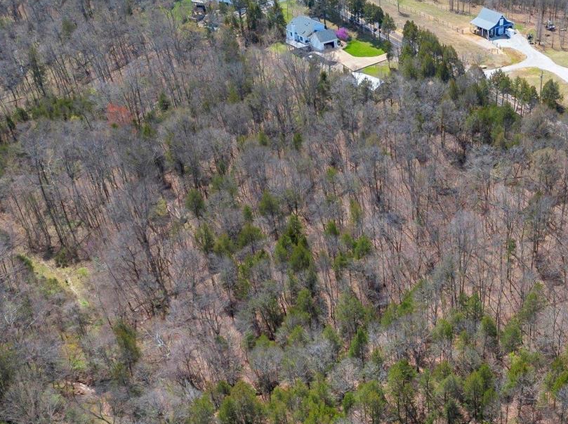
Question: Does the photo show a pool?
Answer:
No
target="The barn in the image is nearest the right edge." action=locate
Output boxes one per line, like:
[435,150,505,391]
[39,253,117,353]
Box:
[469,7,515,40]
